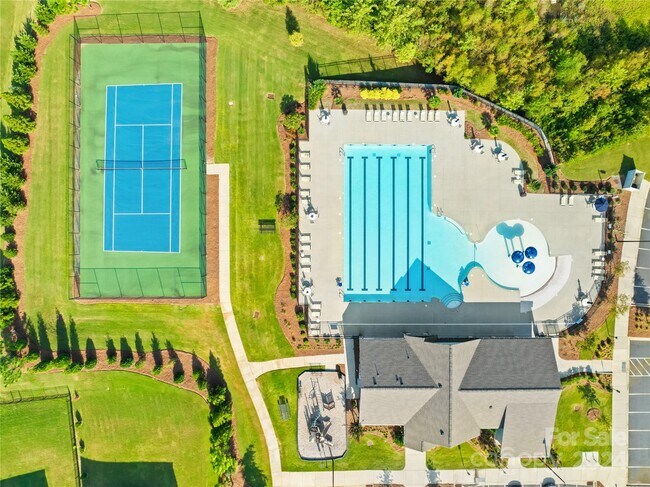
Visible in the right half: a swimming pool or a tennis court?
swimming pool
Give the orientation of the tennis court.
from top to bottom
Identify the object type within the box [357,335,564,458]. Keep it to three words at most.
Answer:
building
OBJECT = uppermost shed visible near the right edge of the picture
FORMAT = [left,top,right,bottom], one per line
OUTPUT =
[623,171,645,190]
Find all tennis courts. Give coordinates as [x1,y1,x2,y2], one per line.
[79,42,206,298]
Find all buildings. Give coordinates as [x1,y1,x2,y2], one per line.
[357,335,564,458]
[623,171,645,190]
